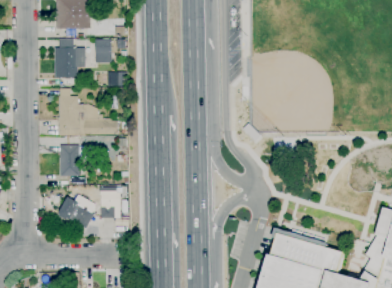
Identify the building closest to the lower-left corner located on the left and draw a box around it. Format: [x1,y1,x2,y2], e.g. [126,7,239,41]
[56,192,98,226]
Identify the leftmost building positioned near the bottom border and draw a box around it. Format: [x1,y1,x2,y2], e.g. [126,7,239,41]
[254,228,369,288]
